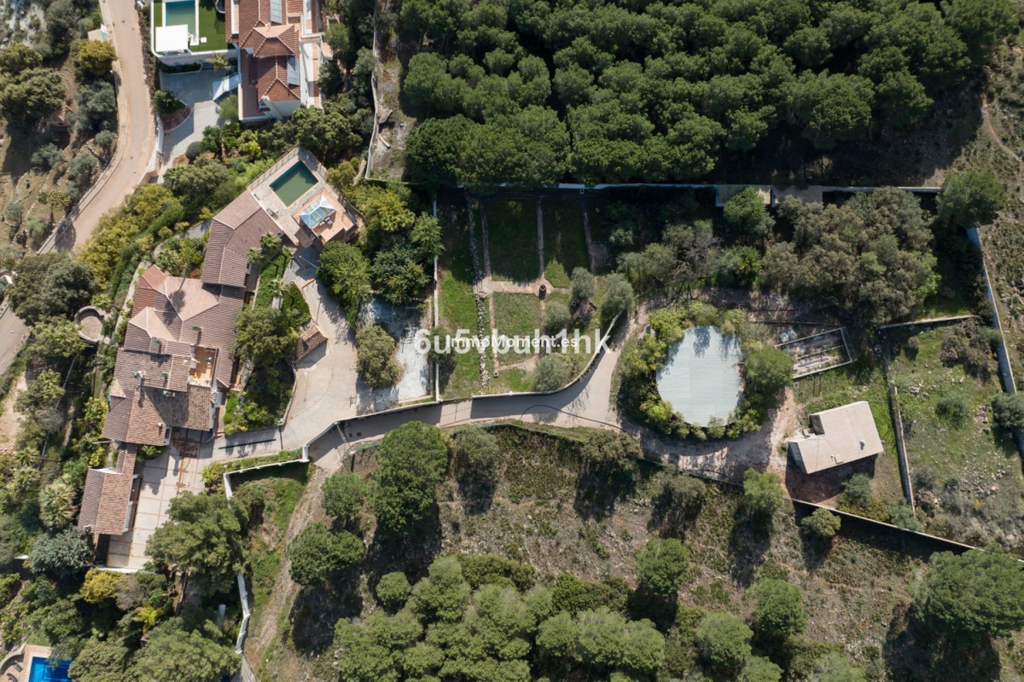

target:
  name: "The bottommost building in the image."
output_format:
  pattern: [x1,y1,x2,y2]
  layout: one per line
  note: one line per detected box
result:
[77,443,151,535]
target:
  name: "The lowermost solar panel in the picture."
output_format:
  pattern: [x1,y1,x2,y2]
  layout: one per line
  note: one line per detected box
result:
[287,56,299,85]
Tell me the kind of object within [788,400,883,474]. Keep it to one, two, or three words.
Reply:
shed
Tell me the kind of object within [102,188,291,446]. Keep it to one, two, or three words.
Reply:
house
